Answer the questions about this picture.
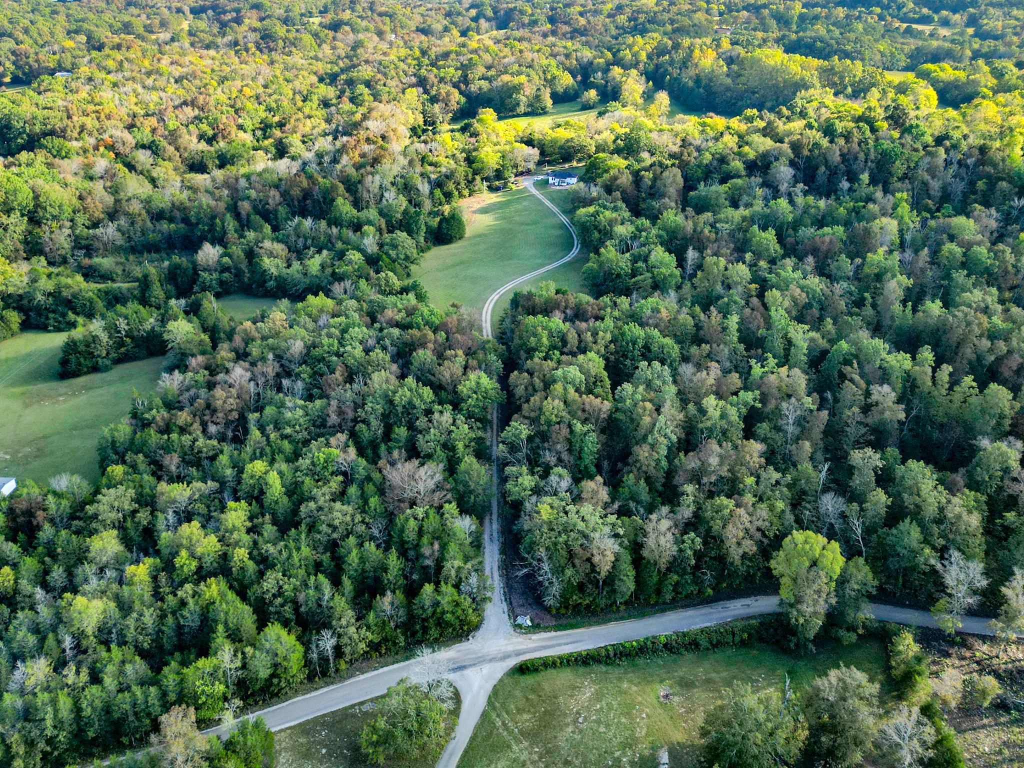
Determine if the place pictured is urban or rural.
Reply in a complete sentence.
The area shown here is rural.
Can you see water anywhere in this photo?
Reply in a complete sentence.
No, there is no water in the image.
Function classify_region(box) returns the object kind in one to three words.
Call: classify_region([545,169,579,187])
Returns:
house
